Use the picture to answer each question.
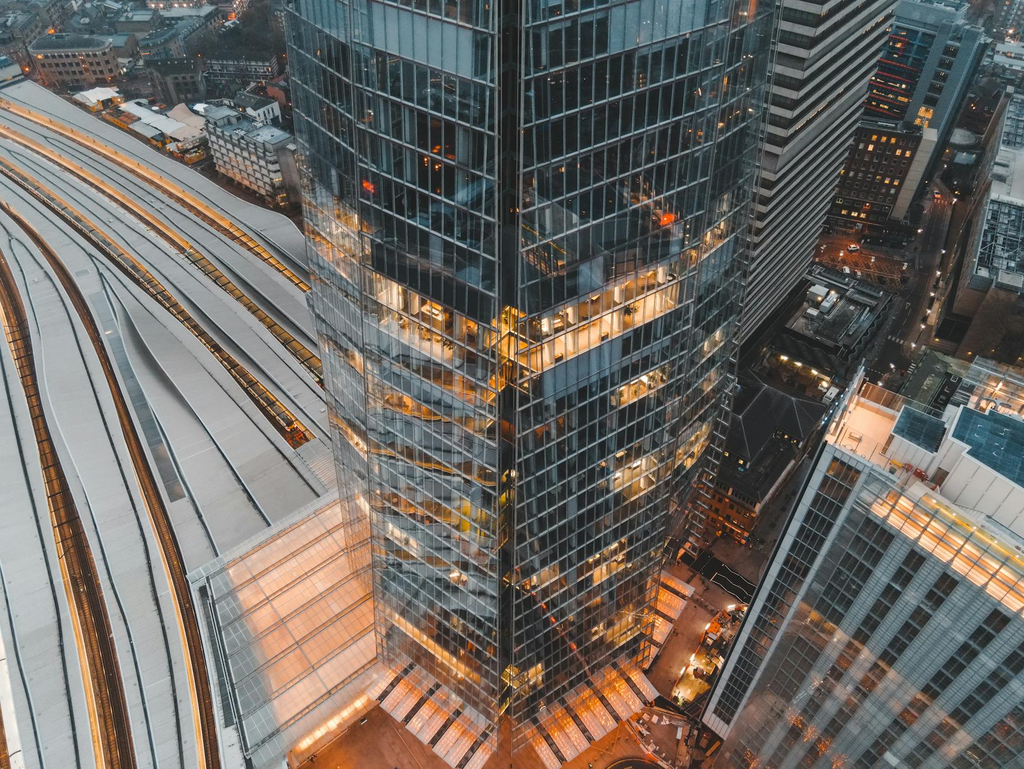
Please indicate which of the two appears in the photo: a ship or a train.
train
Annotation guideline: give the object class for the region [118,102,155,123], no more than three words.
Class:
tent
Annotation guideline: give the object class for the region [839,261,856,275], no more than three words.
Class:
vehicle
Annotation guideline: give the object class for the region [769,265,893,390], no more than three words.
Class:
building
